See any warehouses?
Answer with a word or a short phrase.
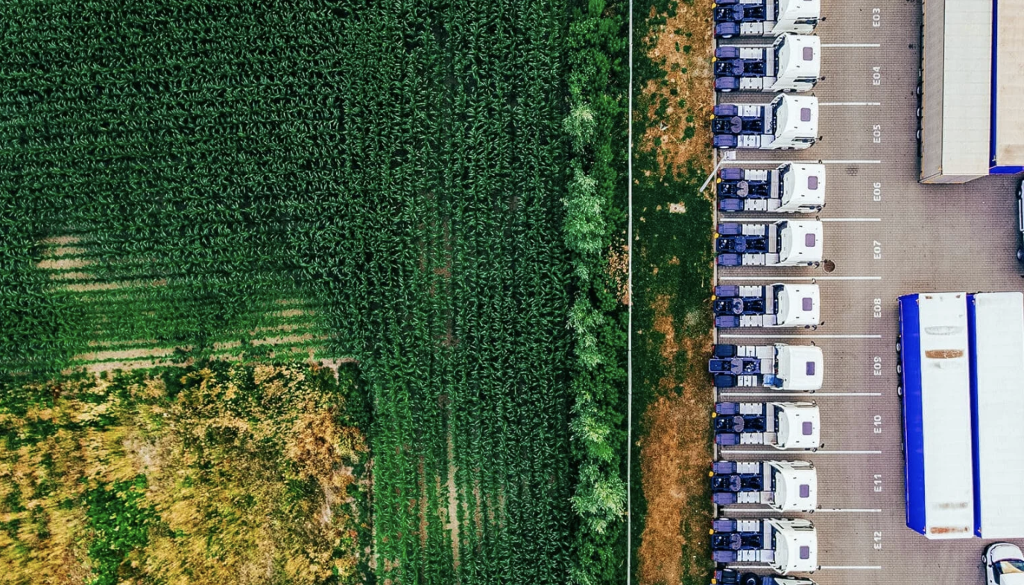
No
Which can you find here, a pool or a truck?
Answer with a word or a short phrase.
truck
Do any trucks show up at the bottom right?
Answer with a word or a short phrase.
Yes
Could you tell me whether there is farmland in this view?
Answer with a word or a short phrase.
Yes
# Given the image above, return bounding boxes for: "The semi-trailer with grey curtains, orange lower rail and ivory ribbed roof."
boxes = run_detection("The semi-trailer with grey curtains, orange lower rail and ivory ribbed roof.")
[915,0,993,184]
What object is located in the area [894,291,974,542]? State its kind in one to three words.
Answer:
trailer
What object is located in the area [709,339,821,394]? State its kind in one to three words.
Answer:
truck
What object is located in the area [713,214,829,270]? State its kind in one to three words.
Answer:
truck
